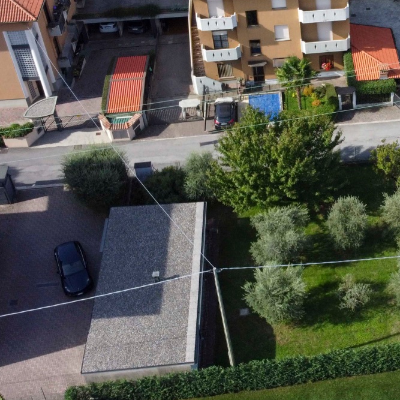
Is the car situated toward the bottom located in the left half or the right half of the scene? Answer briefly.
left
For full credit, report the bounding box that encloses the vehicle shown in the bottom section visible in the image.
[52,238,94,298]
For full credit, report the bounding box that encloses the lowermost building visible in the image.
[80,197,211,394]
